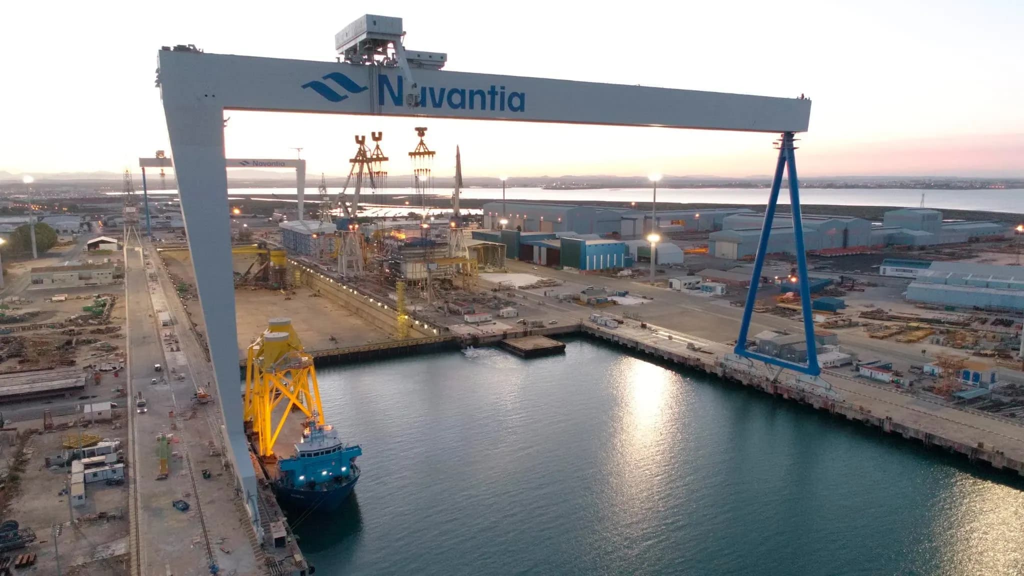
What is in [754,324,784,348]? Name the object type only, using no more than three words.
building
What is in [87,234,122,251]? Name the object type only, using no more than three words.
barn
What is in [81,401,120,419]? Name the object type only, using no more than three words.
shed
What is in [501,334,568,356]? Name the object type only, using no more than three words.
pier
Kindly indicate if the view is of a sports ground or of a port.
port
